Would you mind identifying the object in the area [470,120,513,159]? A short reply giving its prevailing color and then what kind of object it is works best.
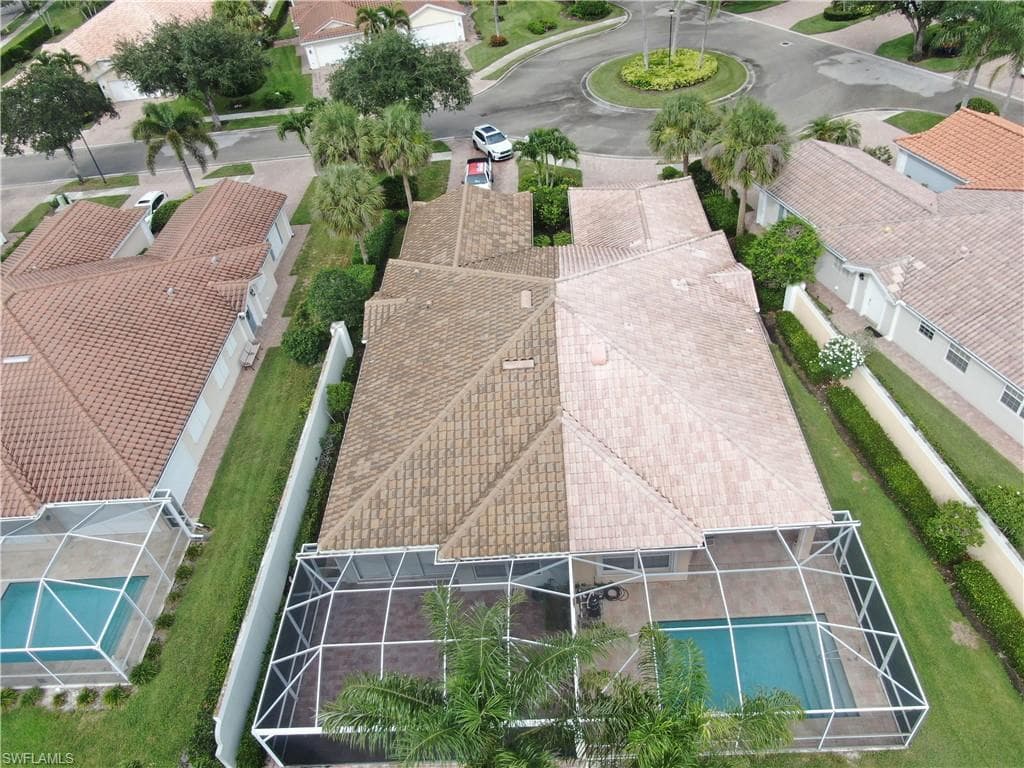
white car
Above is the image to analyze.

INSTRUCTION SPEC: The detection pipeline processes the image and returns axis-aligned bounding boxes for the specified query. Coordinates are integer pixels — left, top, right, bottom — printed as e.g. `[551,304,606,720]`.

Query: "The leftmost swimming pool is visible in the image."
[0,570,157,669]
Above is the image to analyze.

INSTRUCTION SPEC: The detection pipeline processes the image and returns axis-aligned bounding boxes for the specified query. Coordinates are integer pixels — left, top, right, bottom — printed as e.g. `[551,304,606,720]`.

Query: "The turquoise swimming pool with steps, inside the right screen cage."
[650,604,864,723]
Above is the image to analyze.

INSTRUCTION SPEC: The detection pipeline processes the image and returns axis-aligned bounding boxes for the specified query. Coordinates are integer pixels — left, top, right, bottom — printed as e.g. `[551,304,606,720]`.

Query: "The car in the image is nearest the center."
[463,161,493,192]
